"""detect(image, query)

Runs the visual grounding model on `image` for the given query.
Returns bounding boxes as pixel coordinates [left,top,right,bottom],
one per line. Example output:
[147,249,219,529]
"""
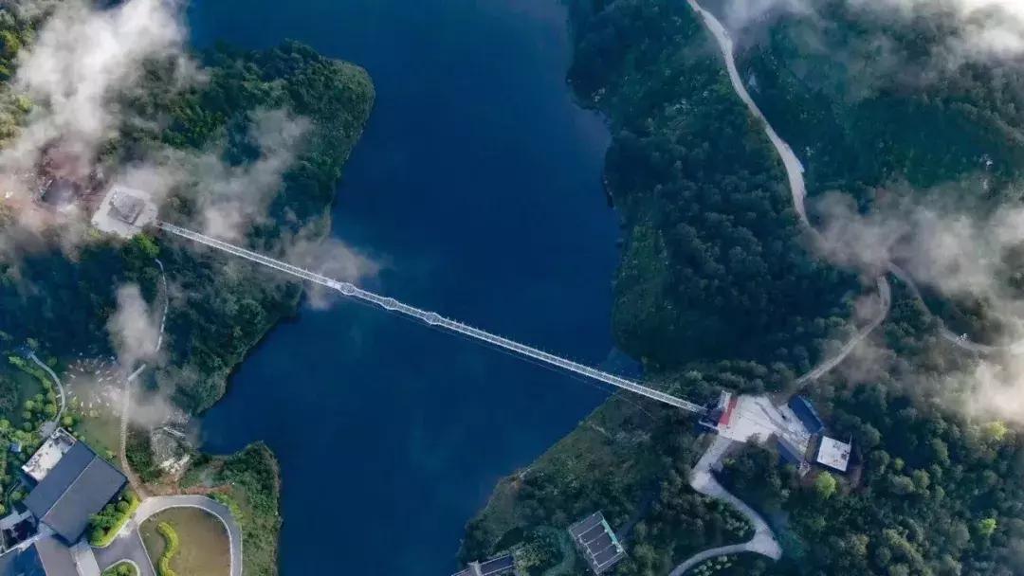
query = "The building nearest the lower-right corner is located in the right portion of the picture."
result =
[816,433,852,472]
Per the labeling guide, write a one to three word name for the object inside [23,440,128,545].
building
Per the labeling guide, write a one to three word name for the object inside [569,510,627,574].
building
